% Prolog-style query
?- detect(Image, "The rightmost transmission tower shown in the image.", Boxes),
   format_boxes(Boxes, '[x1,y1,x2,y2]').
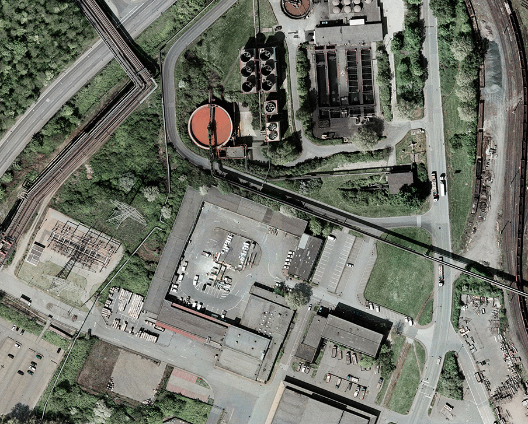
[116,207,143,225]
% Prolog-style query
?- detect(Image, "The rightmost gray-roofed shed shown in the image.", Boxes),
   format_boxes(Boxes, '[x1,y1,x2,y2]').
[385,172,414,190]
